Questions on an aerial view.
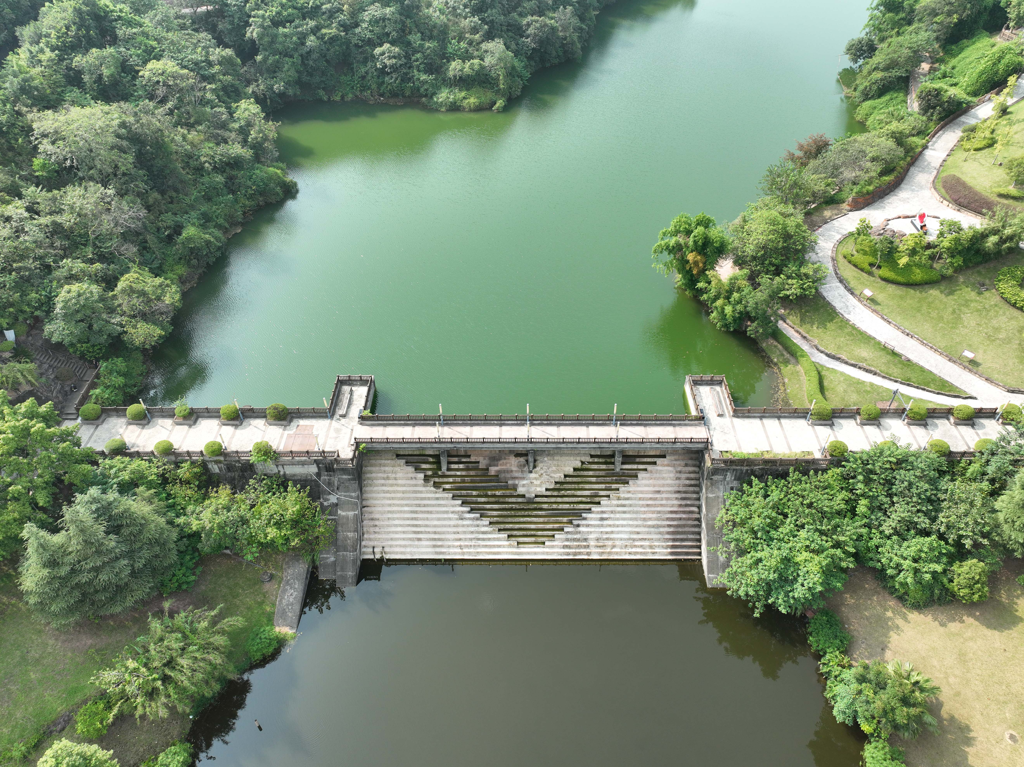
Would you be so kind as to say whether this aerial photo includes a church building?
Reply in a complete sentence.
No, I can't see a single church building in this photo.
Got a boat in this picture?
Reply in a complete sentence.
No, the frame has no boat in it.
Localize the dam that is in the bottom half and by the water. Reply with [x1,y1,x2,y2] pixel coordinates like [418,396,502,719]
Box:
[12,377,1024,587]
